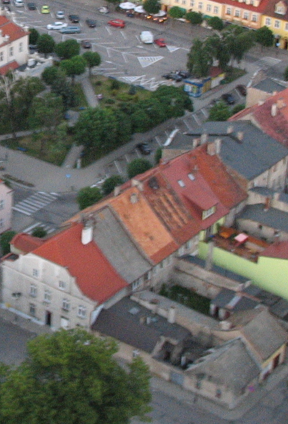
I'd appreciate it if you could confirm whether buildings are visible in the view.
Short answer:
Yes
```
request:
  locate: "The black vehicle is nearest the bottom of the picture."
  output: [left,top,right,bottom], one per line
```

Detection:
[134,142,154,156]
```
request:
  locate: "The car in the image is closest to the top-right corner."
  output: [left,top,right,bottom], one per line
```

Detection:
[231,81,248,96]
